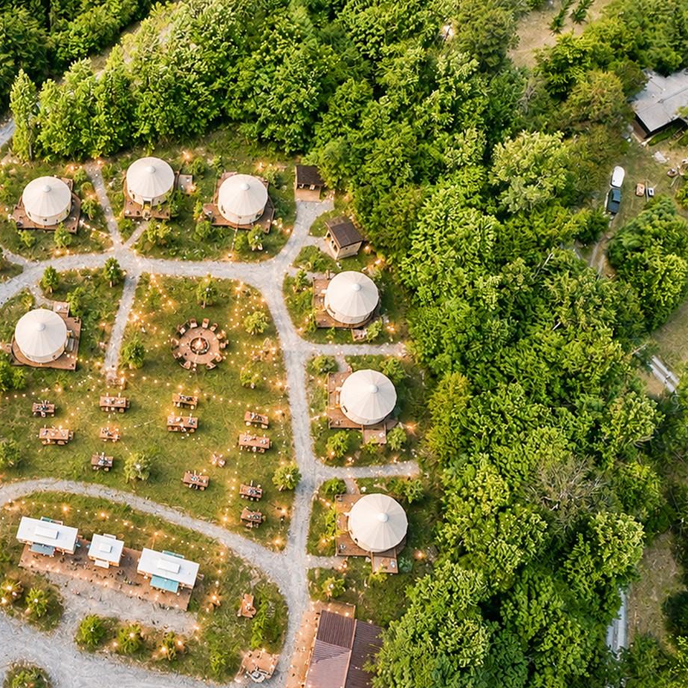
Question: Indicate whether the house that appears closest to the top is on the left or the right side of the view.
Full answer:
You can find the house that appears closest to the top on the right side of the picture.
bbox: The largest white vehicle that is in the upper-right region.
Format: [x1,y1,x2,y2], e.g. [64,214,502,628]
[607,165,625,190]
